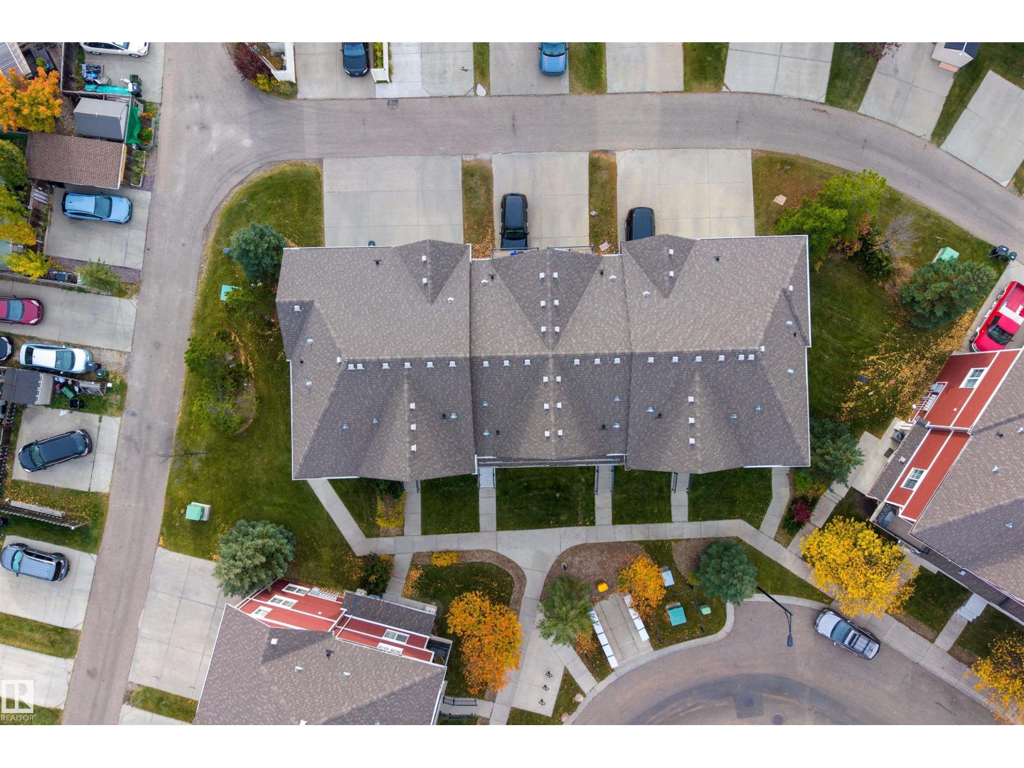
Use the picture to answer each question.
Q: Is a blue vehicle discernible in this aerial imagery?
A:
Yes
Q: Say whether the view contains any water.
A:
No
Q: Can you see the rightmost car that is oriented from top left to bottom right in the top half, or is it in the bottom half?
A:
bottom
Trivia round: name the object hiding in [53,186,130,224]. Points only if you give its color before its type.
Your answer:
blue car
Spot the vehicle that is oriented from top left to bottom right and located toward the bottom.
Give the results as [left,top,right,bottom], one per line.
[814,606,890,667]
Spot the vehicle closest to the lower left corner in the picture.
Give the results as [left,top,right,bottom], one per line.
[0,543,69,585]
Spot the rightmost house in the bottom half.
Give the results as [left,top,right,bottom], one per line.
[848,344,1024,627]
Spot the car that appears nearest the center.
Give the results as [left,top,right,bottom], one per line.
[497,186,532,253]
